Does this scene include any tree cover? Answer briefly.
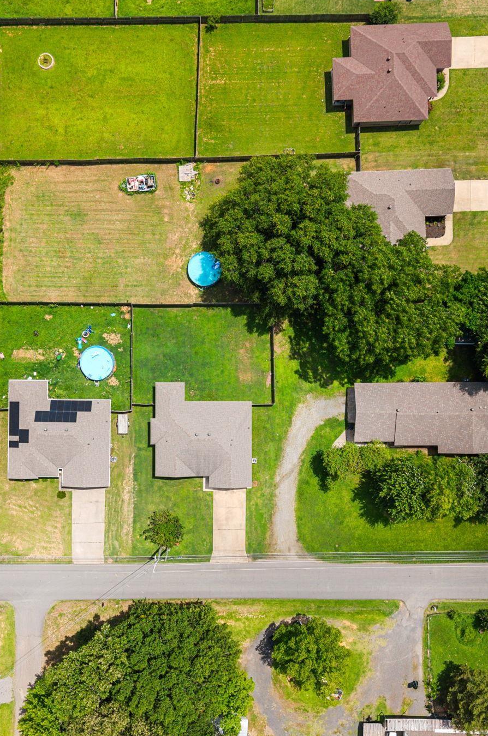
Yes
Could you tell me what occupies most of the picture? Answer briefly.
grass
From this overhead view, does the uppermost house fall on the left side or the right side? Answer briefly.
right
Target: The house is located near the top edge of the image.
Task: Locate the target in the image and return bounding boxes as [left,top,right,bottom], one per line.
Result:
[333,22,454,126]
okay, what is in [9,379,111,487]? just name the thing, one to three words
house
